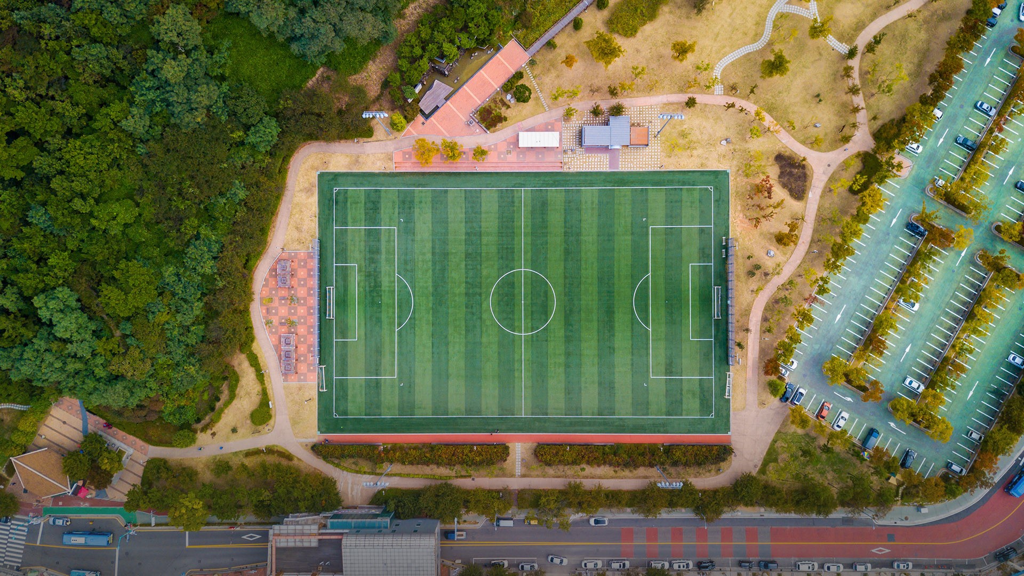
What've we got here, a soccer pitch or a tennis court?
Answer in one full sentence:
Visible in the photo is a soccer pitch.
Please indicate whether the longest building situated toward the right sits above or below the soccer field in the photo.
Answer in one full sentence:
Relative to the soccer field, the longest building situated toward the right lies above it.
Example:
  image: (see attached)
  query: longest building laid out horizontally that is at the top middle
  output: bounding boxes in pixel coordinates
[580,116,650,150]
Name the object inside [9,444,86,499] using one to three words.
building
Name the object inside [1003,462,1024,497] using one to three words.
bus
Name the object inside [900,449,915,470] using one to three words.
car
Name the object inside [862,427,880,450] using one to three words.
vehicle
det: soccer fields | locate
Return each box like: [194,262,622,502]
[317,170,731,435]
